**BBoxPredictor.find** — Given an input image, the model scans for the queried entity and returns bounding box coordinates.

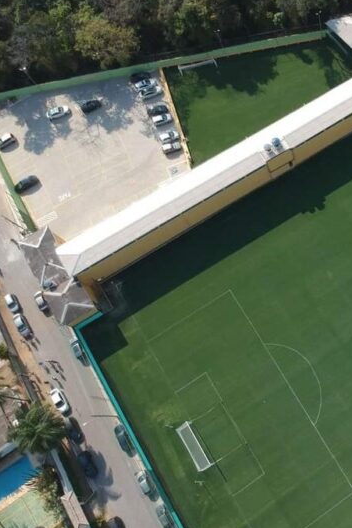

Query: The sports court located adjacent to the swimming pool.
[0,484,64,528]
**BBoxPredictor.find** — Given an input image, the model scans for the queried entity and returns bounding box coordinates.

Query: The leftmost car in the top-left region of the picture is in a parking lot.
[0,130,20,150]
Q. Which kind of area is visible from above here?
sports ground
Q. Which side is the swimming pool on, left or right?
left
